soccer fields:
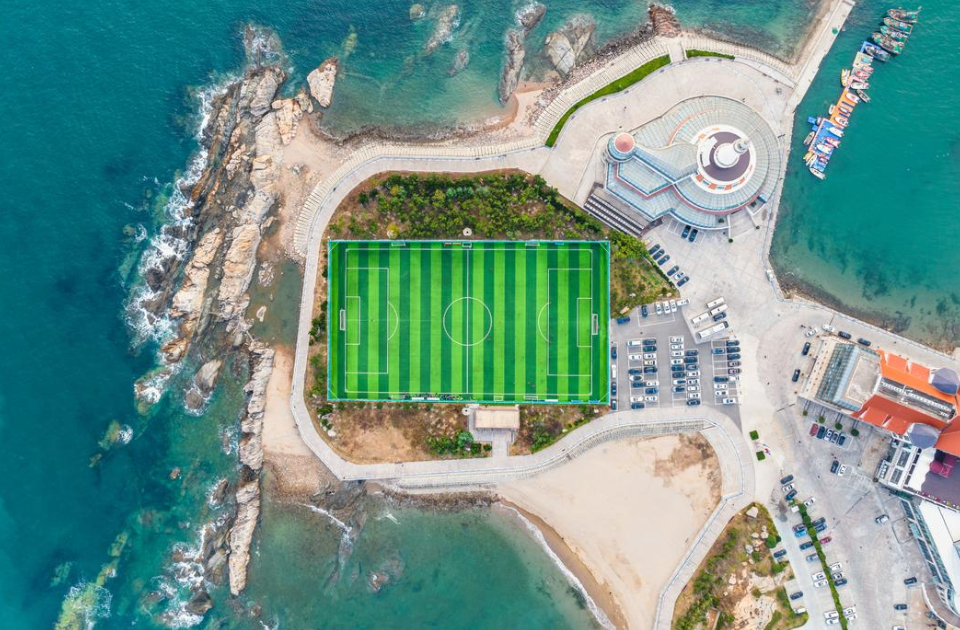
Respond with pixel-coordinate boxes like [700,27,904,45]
[328,241,609,404]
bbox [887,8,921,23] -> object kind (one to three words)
boat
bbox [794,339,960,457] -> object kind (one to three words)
building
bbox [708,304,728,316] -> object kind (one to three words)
vehicle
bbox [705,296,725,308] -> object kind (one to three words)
vehicle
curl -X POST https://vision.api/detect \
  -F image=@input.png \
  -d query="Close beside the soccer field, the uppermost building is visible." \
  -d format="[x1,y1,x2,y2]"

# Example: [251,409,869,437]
[604,94,783,240]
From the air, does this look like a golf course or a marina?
marina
